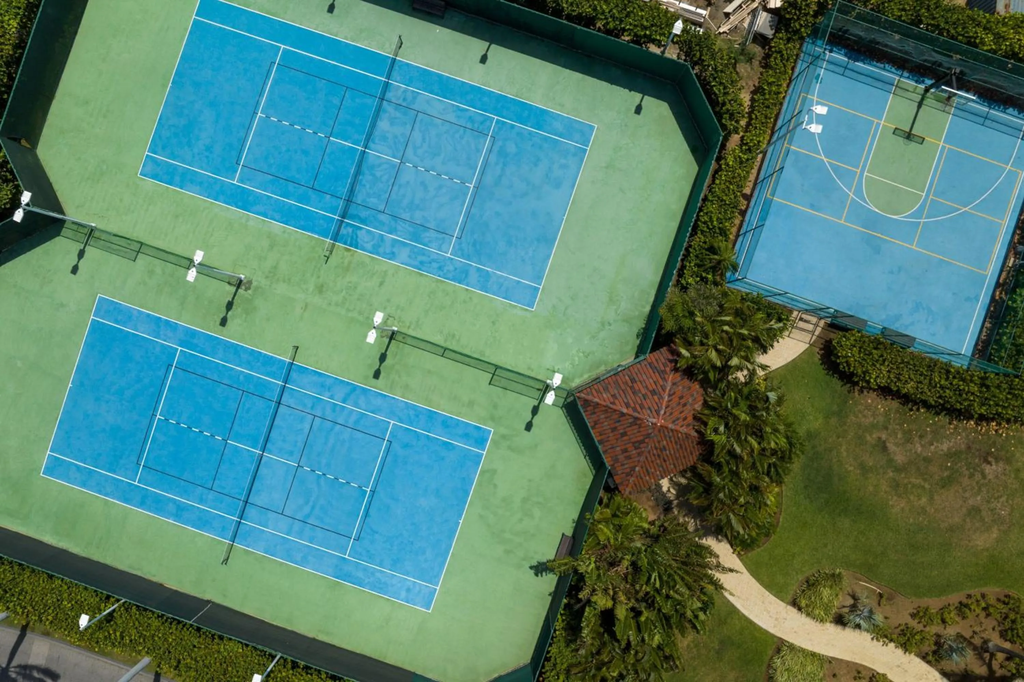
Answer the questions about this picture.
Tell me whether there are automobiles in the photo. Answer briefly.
No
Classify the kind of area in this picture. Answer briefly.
sports ground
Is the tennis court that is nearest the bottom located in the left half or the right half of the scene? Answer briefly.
left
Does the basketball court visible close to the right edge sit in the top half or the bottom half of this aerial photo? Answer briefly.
top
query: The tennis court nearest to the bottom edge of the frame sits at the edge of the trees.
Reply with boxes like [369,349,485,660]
[0,220,598,682]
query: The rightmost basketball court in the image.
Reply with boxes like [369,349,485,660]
[725,34,1024,367]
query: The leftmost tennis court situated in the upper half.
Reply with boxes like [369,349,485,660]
[37,0,706,389]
